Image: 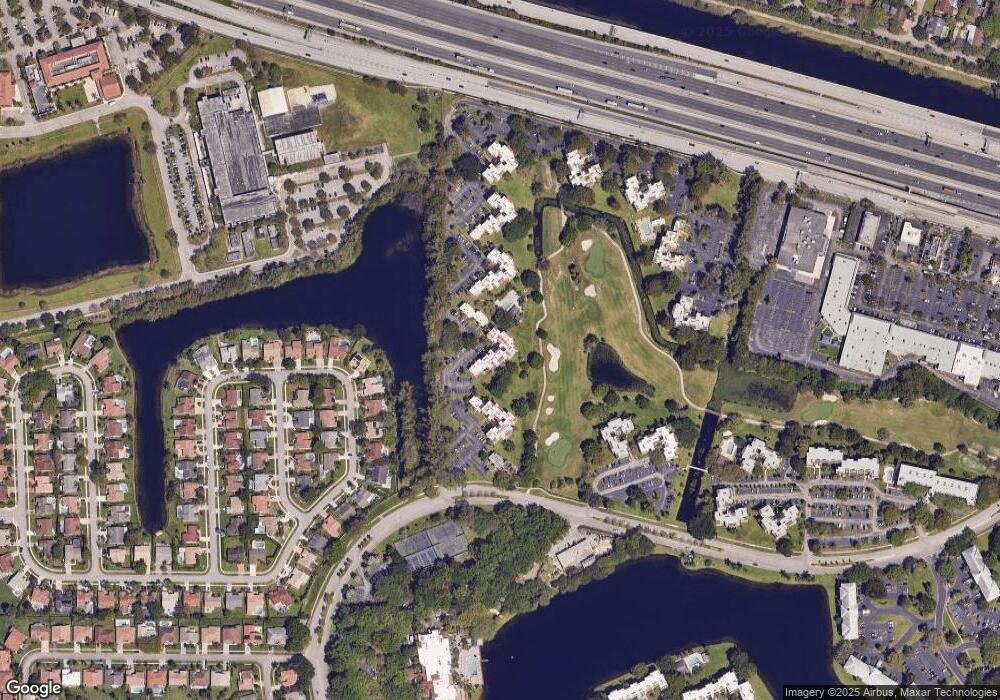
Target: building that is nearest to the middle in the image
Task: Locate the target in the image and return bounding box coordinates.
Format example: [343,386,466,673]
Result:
[470,328,518,377]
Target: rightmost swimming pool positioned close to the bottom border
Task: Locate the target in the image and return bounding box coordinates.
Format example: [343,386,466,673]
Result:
[680,652,707,675]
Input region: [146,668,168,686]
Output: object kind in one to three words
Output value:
house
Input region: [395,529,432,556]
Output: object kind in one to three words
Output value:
tennis court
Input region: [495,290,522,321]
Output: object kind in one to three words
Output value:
swimming pool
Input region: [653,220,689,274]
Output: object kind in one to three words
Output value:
building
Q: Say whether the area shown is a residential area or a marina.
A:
residential area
